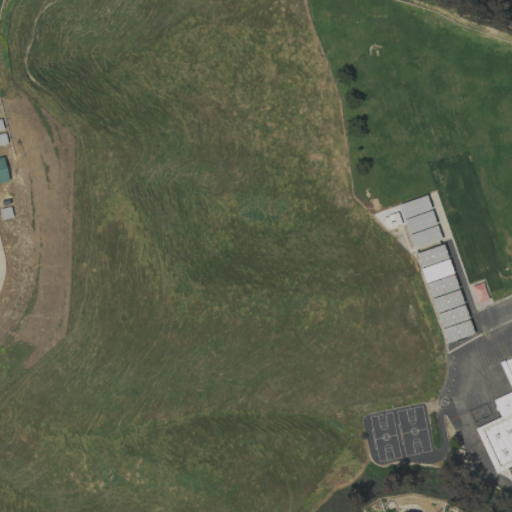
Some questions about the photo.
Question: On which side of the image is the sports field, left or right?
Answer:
right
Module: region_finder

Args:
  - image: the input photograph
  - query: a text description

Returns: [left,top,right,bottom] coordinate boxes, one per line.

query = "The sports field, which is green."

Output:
[306,0,512,302]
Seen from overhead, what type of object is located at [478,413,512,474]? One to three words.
building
